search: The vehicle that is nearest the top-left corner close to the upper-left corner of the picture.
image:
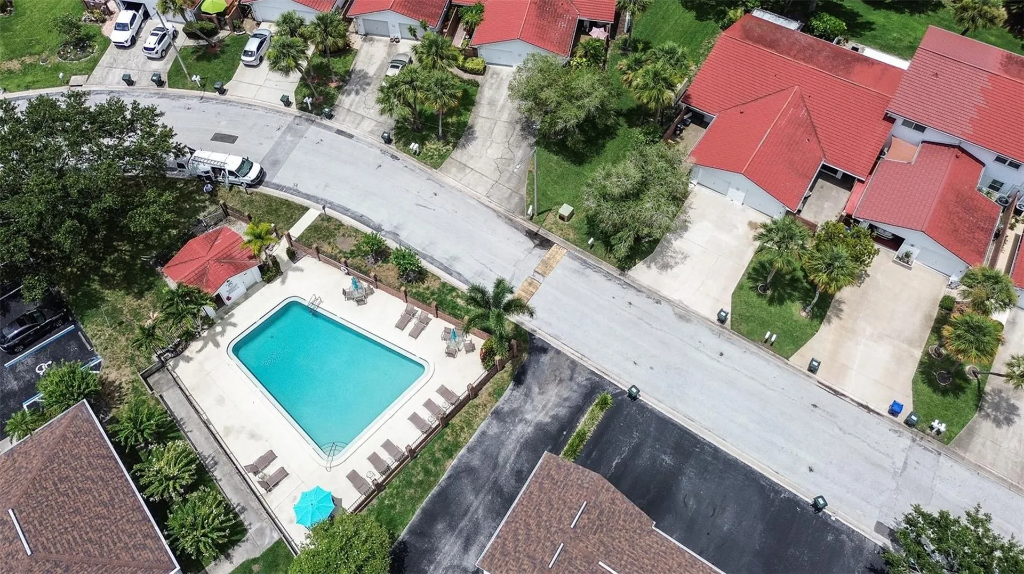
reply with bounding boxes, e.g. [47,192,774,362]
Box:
[110,3,152,48]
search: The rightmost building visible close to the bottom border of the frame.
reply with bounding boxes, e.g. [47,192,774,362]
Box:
[477,451,729,574]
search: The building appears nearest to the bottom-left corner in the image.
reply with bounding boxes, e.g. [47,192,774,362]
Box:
[0,399,182,574]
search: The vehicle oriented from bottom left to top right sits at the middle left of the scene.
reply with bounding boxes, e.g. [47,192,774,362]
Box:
[0,302,68,356]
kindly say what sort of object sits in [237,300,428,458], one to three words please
swimming pool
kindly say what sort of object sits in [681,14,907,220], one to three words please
house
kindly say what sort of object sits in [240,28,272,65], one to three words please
car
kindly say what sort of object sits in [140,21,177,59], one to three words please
car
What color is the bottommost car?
black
